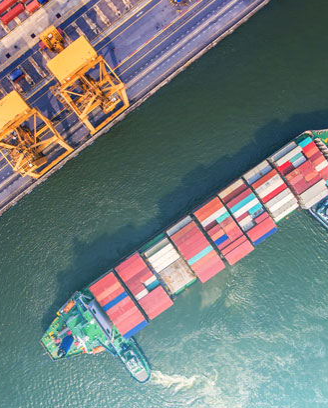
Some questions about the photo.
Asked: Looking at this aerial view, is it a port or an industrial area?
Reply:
port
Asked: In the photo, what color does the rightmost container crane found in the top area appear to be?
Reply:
orange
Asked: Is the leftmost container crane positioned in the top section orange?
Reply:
Yes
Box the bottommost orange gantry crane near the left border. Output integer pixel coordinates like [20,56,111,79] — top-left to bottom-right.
[0,88,84,189]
